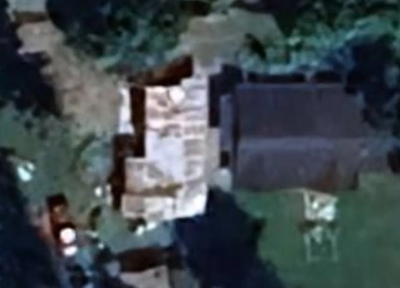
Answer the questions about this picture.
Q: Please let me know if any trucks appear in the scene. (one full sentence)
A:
No, this view has no truck in it.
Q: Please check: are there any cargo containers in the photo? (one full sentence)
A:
No, there is no cargo container in the image.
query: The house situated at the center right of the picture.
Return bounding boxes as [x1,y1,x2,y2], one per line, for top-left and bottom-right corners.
[220,84,391,191]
